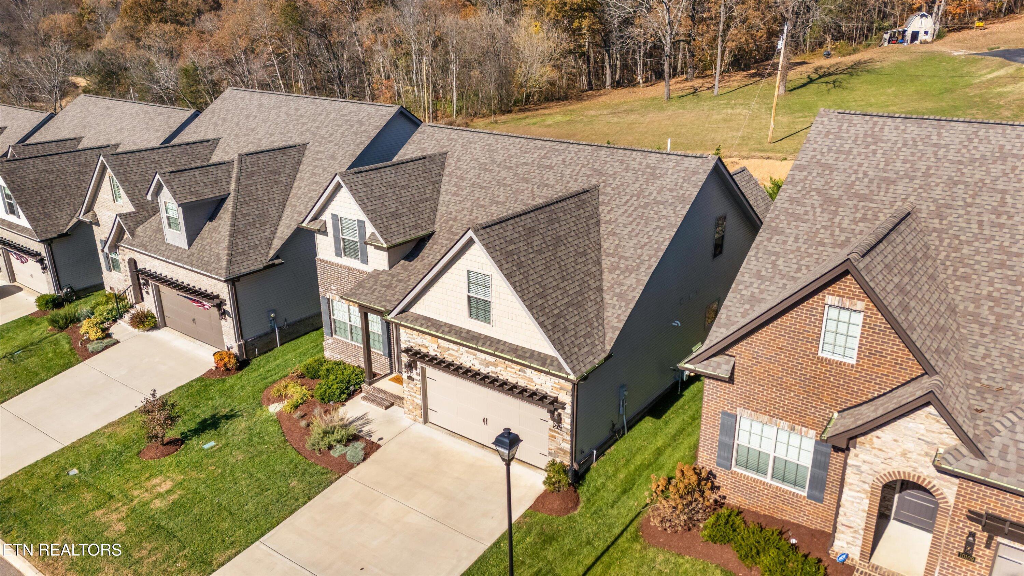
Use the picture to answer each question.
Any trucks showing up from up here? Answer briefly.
No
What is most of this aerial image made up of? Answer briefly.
buildings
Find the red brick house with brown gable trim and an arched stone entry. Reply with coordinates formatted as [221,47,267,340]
[678,105,1024,576]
